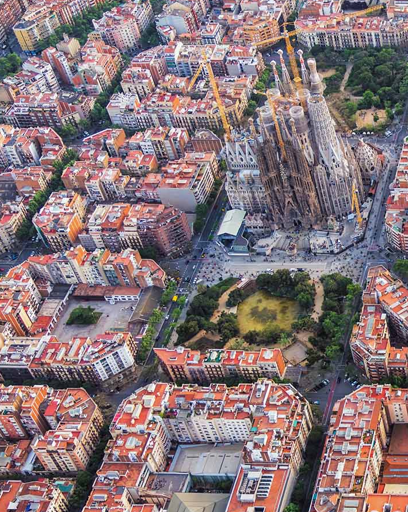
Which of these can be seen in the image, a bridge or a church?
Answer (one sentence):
This aerial view contains a church.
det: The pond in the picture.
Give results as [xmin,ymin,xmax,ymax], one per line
[234,293,303,332]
